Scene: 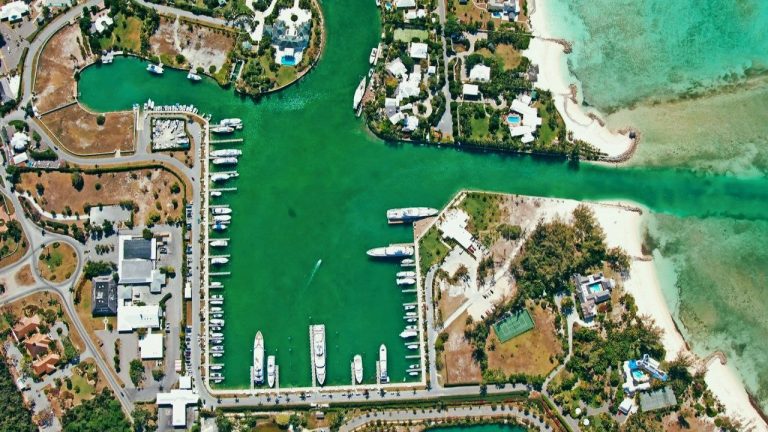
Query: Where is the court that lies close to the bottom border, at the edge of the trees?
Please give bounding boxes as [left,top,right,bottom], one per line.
[641,387,676,411]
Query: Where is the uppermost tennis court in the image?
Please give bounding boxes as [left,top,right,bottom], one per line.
[394,28,428,42]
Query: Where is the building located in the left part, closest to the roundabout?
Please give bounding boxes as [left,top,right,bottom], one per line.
[91,278,116,316]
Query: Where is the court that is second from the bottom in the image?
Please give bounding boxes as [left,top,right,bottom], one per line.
[494,309,535,344]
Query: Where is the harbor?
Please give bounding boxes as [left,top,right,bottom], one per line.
[132,110,426,394]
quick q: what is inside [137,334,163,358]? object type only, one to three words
building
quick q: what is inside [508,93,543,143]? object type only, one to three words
house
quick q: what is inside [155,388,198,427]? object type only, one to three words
building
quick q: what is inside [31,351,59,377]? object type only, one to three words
house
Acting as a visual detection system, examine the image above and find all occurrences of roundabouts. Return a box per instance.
[31,236,84,289]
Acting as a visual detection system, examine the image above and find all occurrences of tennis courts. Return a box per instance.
[641,387,676,411]
[394,28,428,42]
[494,309,535,344]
